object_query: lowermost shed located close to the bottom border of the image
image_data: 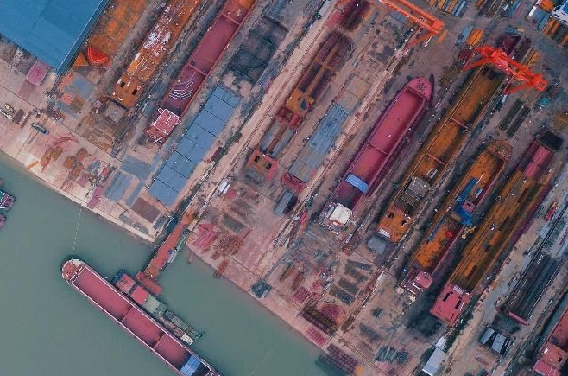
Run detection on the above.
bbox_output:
[417,346,447,376]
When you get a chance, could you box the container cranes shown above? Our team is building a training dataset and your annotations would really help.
[371,0,447,50]
[460,41,546,99]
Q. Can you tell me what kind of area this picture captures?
port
